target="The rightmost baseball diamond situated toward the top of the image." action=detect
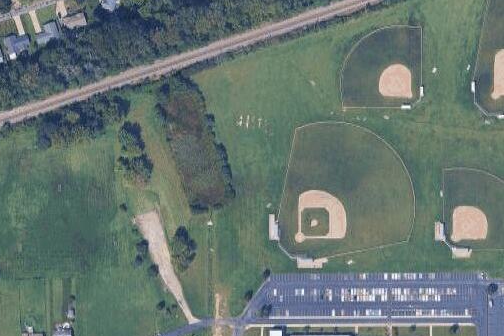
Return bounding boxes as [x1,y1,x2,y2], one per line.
[474,0,504,114]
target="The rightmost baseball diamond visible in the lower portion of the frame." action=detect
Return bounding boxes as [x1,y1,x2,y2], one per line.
[442,166,504,251]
